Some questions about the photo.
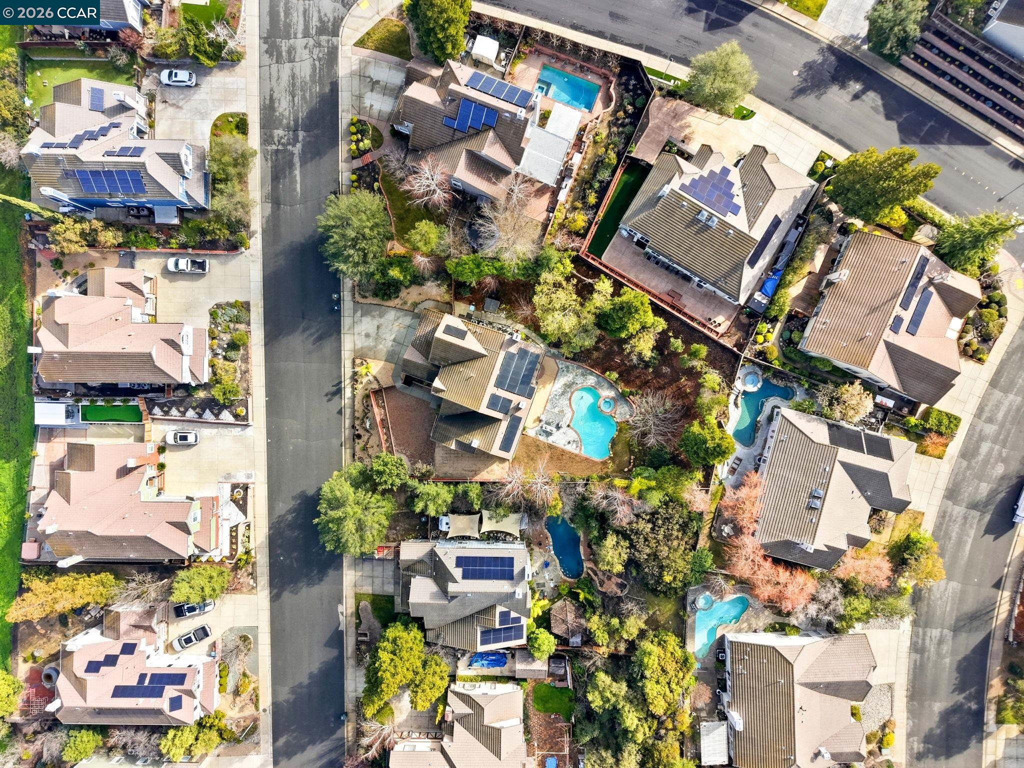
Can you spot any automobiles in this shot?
Yes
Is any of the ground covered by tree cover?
Yes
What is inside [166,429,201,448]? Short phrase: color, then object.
white car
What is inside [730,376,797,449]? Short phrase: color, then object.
blue swimming pool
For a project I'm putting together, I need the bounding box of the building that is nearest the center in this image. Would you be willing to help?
[398,308,547,460]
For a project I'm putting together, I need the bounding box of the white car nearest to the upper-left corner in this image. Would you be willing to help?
[161,68,197,87]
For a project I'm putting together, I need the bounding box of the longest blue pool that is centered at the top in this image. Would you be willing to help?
[531,61,605,116]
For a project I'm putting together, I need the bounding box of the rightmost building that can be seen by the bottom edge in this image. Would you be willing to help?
[712,625,877,768]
